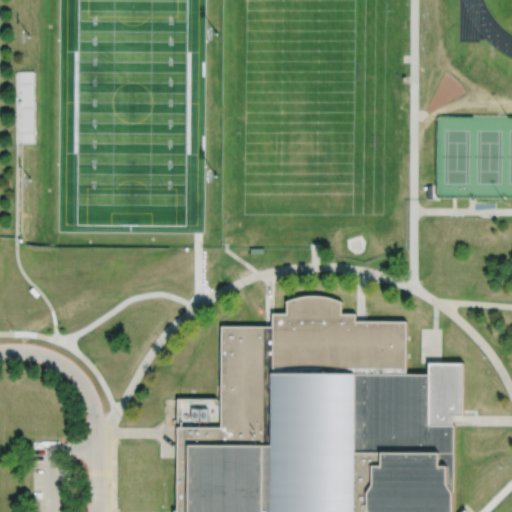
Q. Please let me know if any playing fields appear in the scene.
Yes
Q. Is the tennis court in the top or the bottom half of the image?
top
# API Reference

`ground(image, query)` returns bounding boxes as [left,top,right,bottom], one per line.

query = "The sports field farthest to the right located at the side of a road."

[224,0,402,232]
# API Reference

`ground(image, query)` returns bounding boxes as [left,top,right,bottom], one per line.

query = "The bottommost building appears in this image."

[176,296,466,512]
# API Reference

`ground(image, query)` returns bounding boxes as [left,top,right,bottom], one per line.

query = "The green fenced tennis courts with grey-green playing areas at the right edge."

[438,116,512,196]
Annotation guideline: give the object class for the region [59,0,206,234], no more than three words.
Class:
sports field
